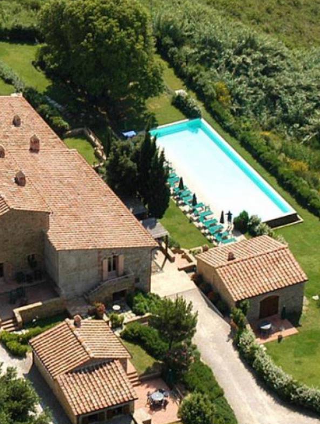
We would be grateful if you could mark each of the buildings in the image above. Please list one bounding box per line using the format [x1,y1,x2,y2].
[193,235,307,325]
[0,94,157,319]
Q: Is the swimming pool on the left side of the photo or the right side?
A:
right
